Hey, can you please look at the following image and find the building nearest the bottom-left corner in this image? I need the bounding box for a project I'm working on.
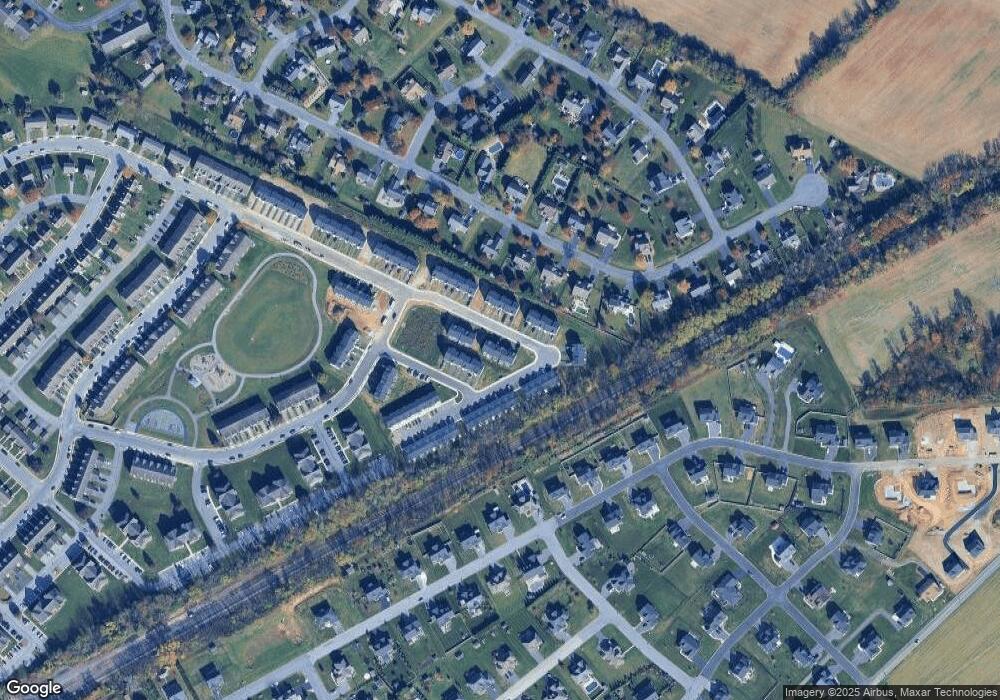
[28,587,70,624]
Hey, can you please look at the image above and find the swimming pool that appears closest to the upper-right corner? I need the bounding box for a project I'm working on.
[874,174,894,190]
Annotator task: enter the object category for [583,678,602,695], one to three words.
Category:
swimming pool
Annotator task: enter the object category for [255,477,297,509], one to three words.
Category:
building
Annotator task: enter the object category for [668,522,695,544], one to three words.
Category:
house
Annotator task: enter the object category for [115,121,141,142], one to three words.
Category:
house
